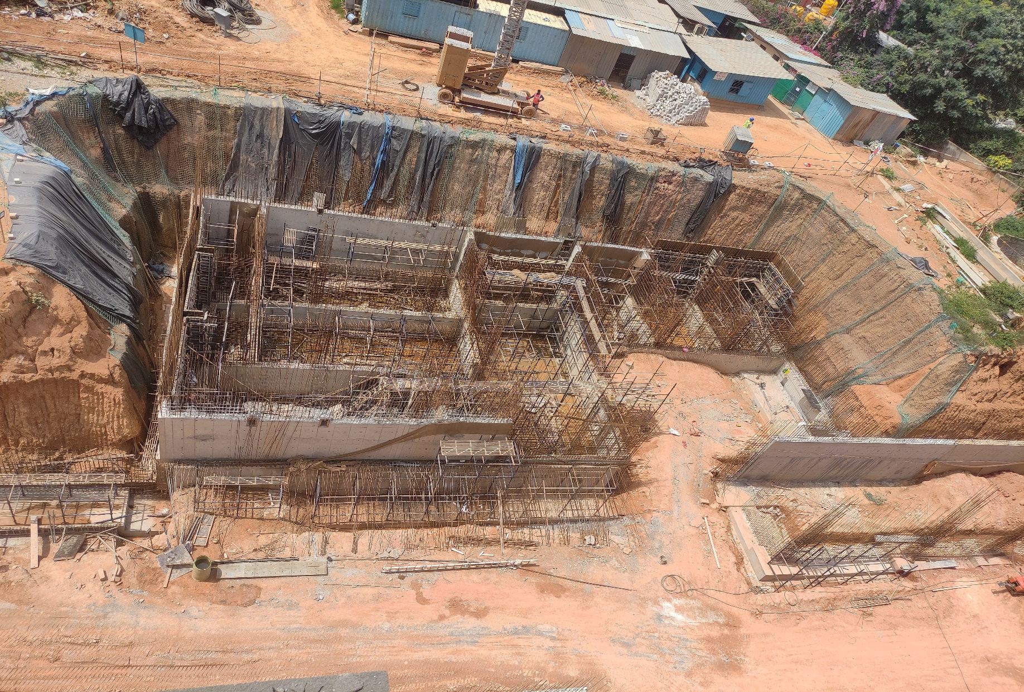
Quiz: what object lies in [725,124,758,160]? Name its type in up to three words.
building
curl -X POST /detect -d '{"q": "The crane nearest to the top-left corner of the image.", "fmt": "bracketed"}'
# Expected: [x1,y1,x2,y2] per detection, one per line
[439,0,538,122]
